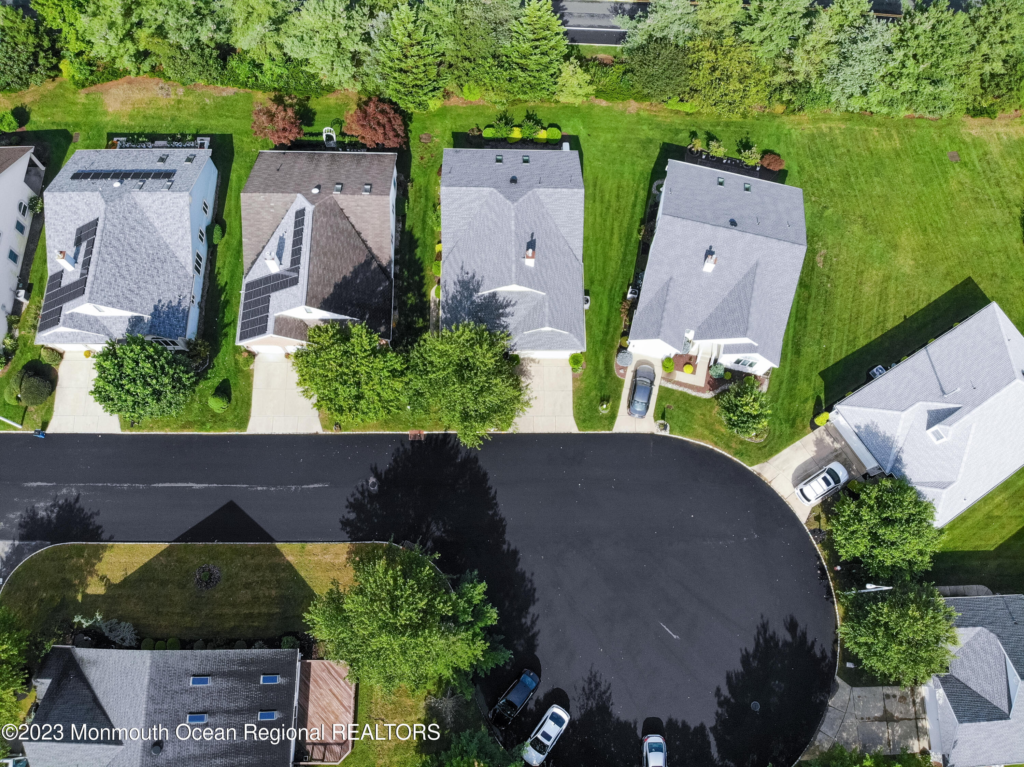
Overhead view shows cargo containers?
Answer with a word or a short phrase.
No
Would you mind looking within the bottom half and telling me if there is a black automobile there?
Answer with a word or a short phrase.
Yes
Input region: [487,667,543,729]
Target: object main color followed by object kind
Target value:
black car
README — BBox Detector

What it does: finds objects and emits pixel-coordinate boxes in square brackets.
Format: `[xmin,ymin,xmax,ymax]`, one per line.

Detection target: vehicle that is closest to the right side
[792,464,849,509]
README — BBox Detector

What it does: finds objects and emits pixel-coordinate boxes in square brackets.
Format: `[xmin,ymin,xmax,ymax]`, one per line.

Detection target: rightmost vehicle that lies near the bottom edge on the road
[640,733,667,767]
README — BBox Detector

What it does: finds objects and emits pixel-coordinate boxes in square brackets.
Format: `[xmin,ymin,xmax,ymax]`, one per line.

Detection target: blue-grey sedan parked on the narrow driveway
[627,364,658,421]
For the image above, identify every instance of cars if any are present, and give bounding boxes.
[0,752,28,767]
[792,464,849,509]
[487,667,543,729]
[627,364,658,421]
[640,733,667,767]
[520,702,573,767]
